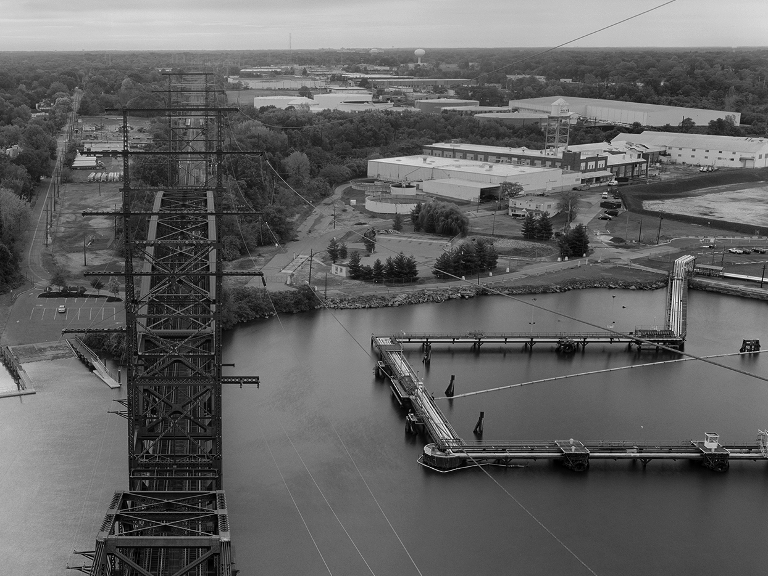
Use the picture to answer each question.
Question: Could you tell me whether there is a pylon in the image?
Yes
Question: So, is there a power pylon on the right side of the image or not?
No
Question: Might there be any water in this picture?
Yes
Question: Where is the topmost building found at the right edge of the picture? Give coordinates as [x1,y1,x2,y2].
[509,97,741,130]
